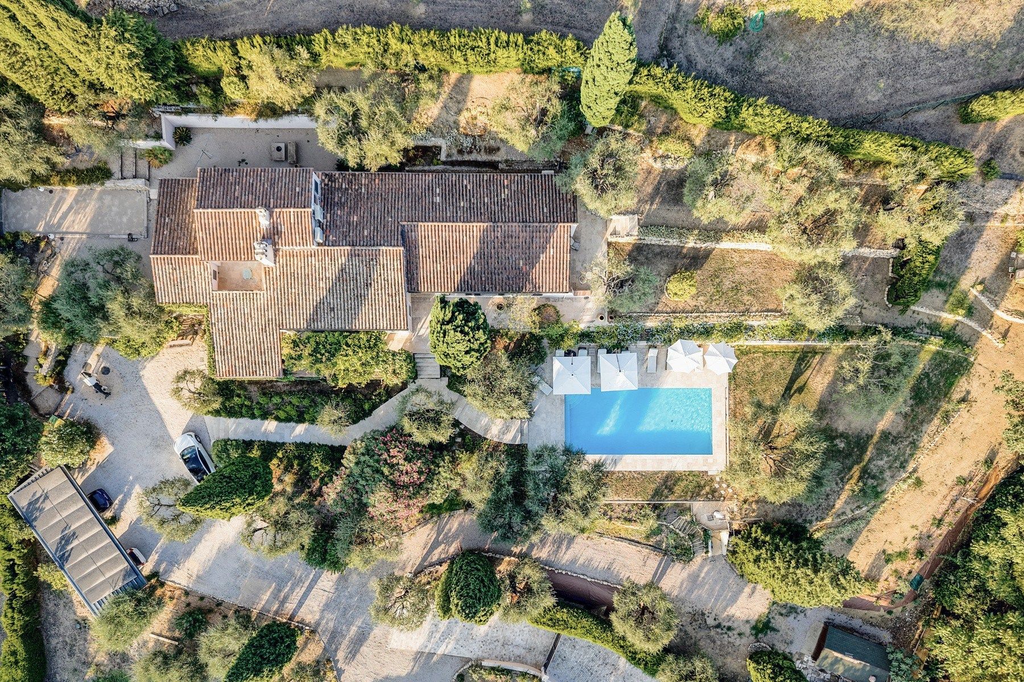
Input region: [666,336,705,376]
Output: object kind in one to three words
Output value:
umbrella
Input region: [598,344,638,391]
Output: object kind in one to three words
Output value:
umbrella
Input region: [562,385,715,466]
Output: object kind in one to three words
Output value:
swimming pool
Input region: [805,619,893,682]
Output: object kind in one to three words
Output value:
shed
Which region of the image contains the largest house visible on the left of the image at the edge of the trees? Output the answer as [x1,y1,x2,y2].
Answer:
[147,167,578,382]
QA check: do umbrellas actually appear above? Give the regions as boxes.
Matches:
[598,344,638,391]
[666,336,705,376]
[704,340,738,374]
[553,347,591,394]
